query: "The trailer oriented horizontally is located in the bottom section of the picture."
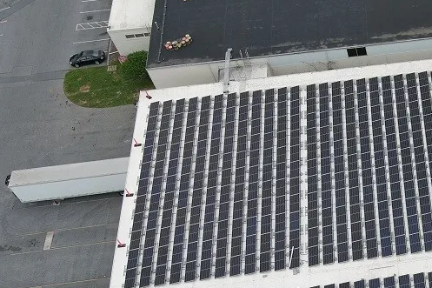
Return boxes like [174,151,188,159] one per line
[3,156,129,205]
